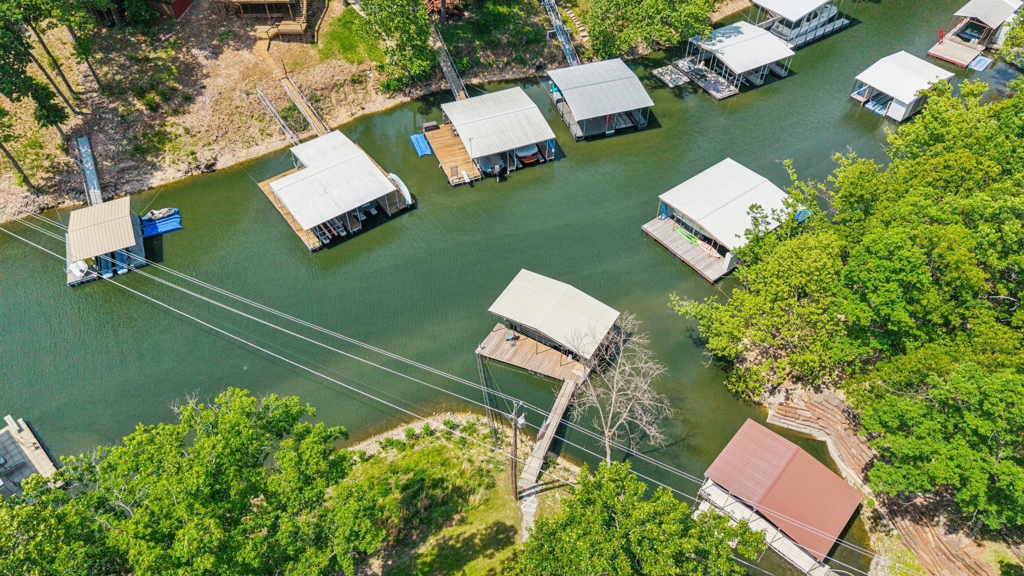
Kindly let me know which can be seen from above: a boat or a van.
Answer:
boat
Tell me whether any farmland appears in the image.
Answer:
No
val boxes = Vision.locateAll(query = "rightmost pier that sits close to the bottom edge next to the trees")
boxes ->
[697,418,864,576]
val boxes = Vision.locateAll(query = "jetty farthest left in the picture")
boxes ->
[0,413,69,516]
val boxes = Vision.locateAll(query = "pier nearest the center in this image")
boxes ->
[475,269,620,399]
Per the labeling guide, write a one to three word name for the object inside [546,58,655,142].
pier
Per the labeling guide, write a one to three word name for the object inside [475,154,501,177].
boat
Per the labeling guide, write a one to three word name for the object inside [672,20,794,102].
pier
